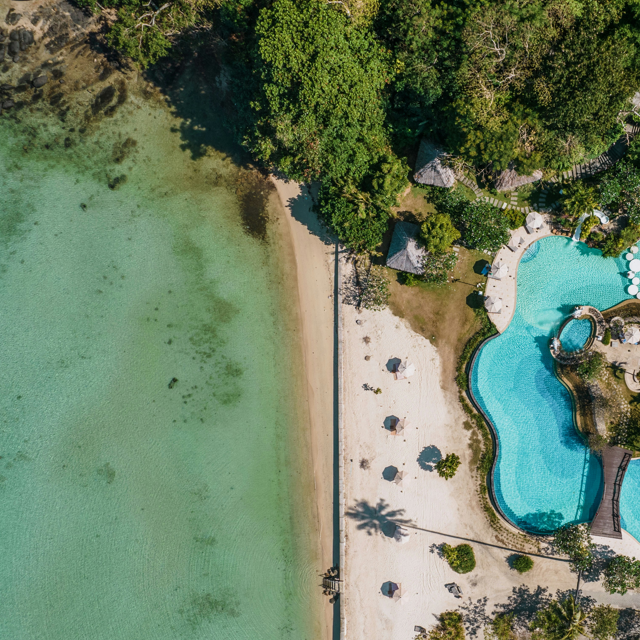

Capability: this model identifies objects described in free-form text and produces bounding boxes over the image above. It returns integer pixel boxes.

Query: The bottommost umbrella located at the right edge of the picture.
[625,327,640,344]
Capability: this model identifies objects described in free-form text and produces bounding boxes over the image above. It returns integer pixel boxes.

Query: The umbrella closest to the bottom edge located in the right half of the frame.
[393,588,409,604]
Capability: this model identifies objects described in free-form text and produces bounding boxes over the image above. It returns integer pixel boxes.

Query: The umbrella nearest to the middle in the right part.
[397,360,414,377]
